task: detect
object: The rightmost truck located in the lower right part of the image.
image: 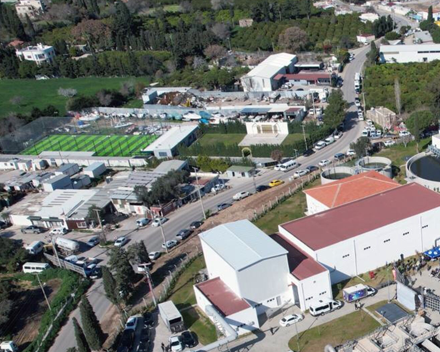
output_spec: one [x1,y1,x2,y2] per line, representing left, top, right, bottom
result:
[342,281,377,303]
